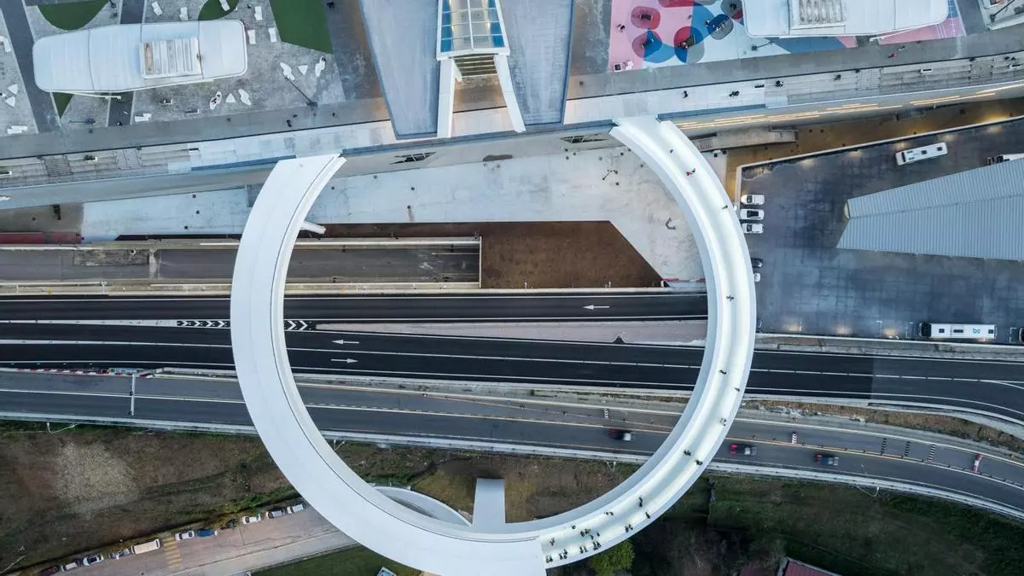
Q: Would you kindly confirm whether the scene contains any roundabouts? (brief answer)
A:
No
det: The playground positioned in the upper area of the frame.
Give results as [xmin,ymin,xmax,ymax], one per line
[608,0,857,72]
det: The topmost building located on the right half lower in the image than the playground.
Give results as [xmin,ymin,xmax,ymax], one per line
[690,126,800,153]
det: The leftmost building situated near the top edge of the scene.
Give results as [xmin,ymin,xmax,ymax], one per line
[32,18,248,99]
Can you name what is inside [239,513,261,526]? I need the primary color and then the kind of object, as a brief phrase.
white vehicle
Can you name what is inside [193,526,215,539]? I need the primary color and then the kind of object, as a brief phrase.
blue vehicle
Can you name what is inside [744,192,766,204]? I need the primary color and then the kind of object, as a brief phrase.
white vehicle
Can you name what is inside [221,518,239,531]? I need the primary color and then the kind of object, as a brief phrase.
black vehicle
